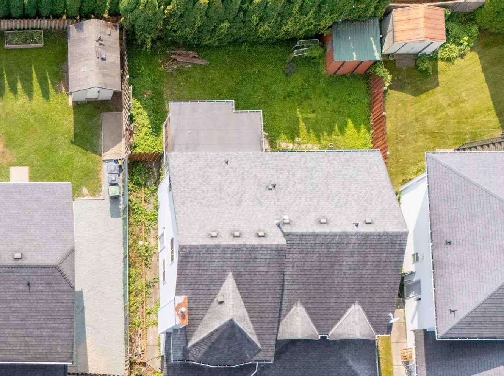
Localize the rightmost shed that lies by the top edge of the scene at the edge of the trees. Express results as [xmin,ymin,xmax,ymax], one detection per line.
[381,6,445,54]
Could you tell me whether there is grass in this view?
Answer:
Yes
